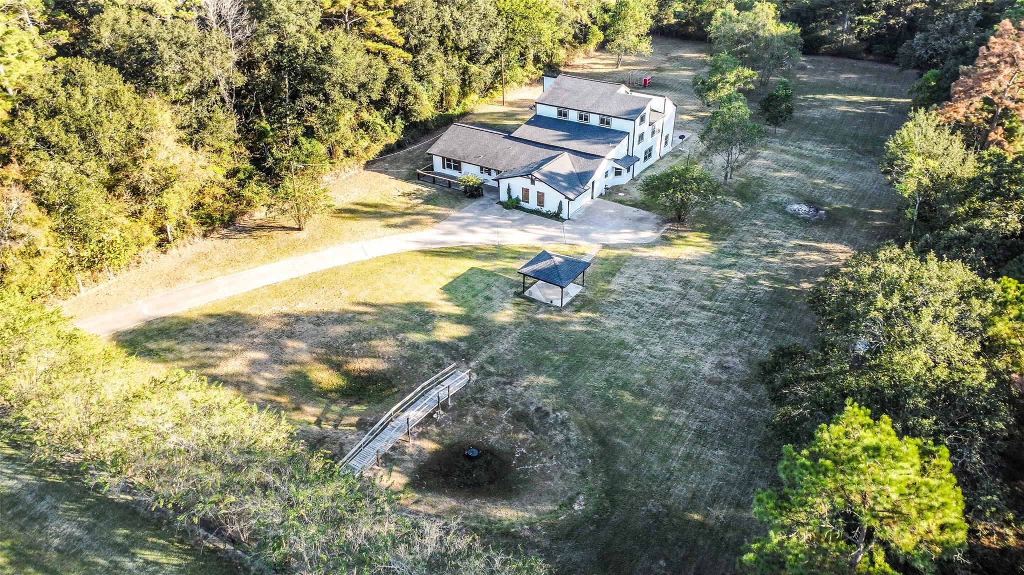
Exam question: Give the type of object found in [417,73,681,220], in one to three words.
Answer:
house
